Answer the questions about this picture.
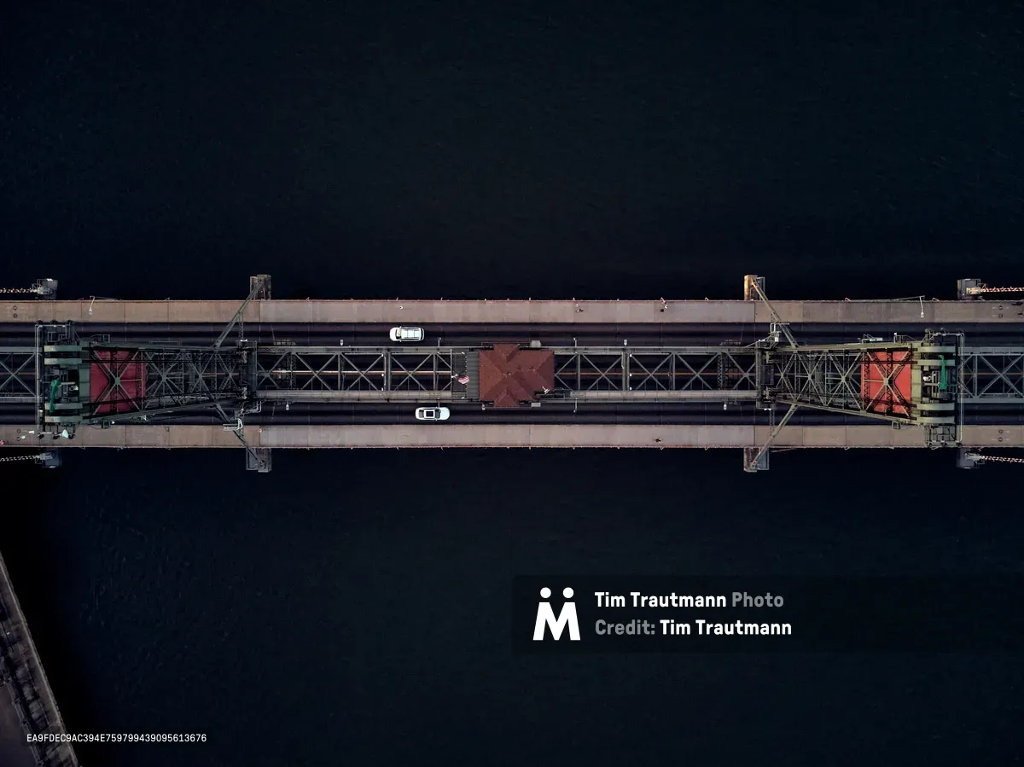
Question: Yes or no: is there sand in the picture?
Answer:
No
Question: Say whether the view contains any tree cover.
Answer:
No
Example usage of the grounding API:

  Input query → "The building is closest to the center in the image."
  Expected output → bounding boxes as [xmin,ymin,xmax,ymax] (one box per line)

[451,341,564,408]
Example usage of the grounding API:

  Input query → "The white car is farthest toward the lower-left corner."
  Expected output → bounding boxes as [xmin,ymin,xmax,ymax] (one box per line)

[416,407,449,421]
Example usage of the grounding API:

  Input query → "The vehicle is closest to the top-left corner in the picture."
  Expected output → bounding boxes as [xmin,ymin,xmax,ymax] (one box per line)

[389,326,424,342]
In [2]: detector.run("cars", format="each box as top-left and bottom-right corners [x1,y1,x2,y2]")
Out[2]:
[416,407,449,421]
[389,326,424,342]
